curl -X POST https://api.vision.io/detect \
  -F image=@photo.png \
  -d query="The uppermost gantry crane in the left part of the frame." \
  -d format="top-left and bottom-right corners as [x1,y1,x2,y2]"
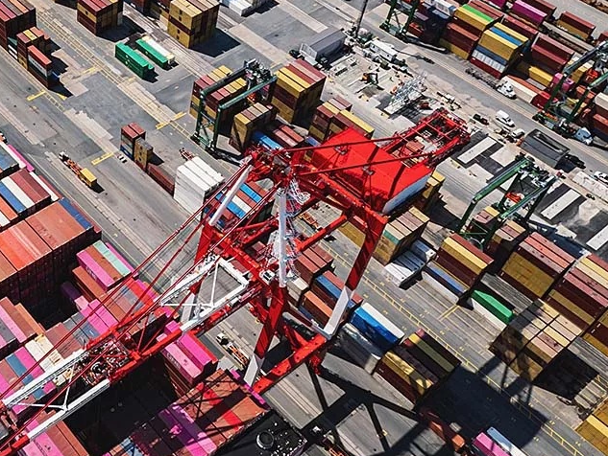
[192,64,277,150]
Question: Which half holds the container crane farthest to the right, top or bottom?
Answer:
top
